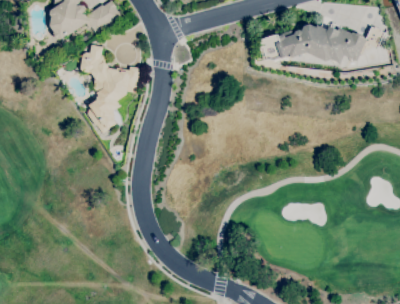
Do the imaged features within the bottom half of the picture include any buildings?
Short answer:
No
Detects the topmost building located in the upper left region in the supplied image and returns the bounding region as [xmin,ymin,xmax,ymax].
[48,0,119,36]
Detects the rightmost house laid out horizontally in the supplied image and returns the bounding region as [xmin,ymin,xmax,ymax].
[261,24,365,62]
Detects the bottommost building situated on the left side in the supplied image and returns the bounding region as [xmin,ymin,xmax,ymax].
[80,44,138,126]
